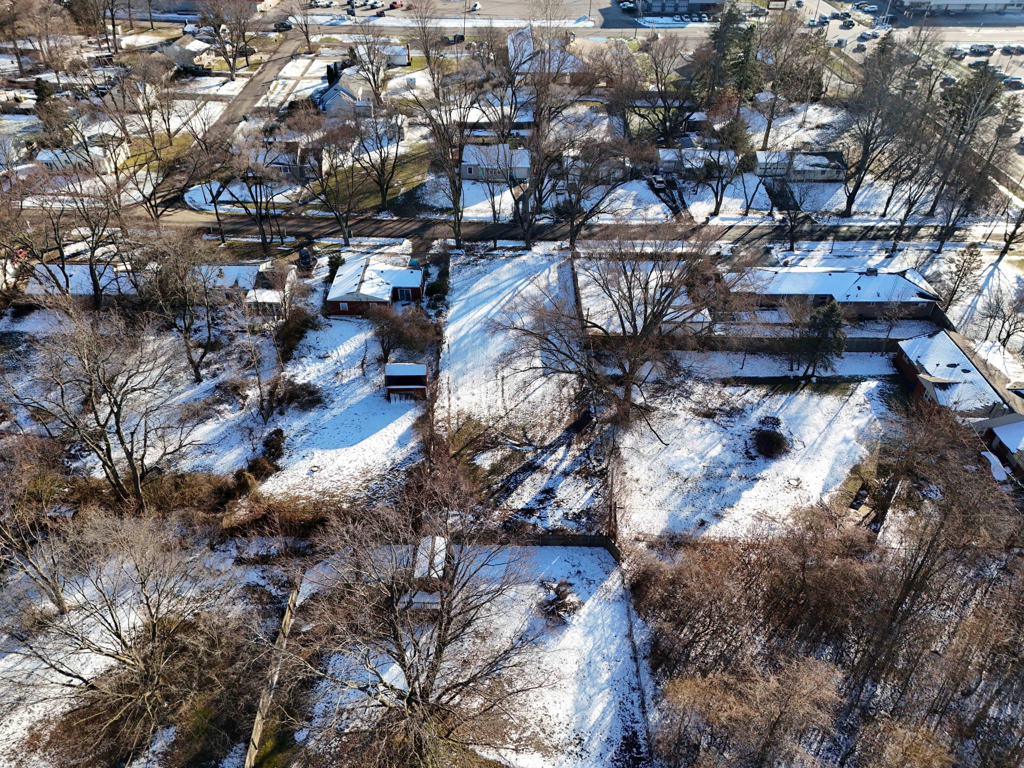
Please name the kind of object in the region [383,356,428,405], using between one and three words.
shed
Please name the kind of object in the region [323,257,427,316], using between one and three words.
house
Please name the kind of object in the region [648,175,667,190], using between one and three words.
car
